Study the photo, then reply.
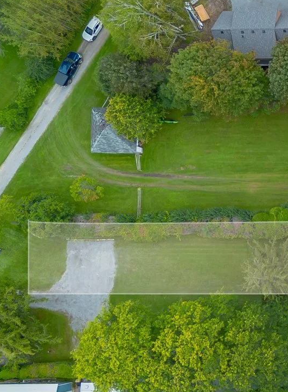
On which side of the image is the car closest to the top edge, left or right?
left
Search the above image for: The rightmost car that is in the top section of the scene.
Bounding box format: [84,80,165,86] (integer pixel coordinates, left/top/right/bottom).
[84,15,105,42]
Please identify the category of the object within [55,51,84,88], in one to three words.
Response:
truck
